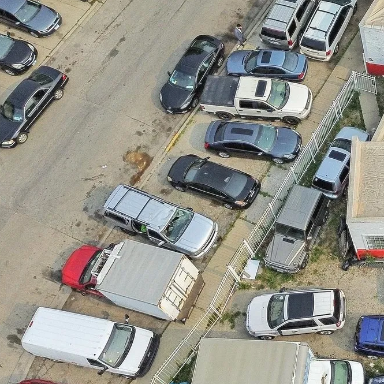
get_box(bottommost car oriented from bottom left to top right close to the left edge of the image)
[0,66,72,149]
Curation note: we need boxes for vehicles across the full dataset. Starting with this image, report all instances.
[310,125,369,207]
[165,156,263,212]
[197,72,314,122]
[0,0,63,40]
[65,235,210,321]
[162,32,228,114]
[247,286,348,339]
[191,339,367,384]
[257,0,317,49]
[0,66,72,149]
[102,180,214,261]
[352,313,384,361]
[201,119,304,167]
[0,32,40,80]
[260,177,329,280]
[297,0,359,65]
[226,43,310,83]
[13,302,161,382]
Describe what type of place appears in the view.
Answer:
parking lot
